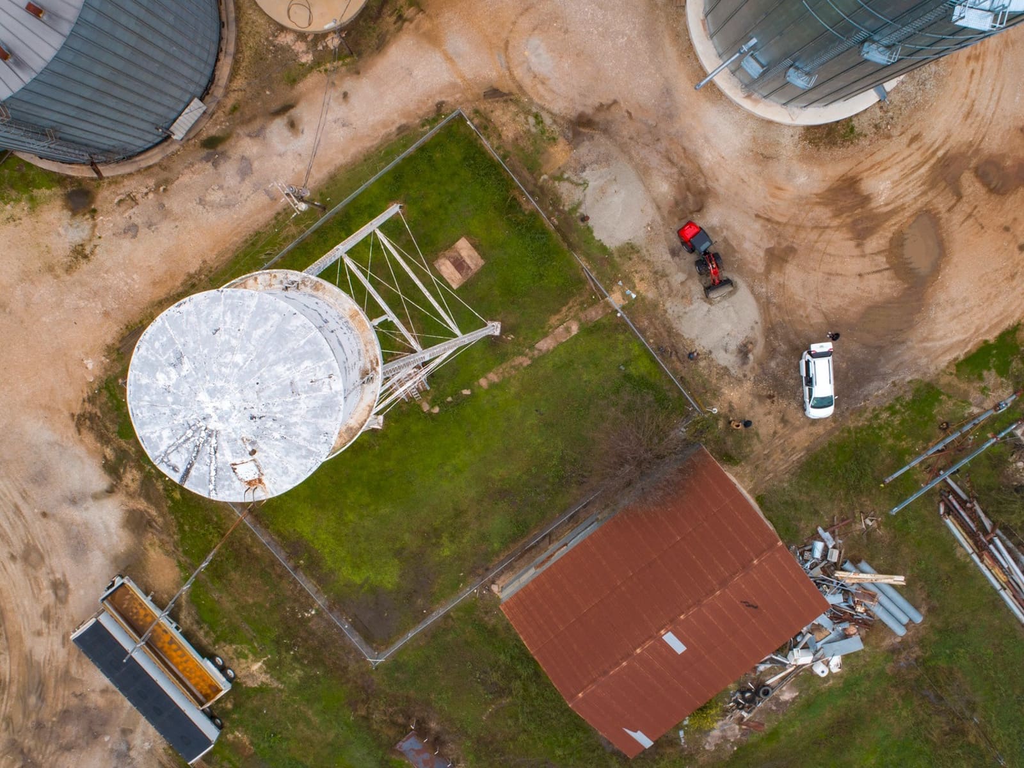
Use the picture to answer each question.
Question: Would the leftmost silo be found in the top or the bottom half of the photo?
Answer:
top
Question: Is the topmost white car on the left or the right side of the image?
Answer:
right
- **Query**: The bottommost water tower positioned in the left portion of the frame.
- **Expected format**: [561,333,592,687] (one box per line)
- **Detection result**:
[130,198,503,512]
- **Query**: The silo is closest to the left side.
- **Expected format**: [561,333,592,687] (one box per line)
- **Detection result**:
[0,0,233,179]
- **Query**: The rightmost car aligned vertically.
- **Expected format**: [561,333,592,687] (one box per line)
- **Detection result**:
[803,344,840,420]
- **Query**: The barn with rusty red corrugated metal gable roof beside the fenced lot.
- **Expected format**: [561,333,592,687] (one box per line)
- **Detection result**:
[499,437,831,755]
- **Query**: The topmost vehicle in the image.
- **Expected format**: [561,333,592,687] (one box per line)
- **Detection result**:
[675,220,734,297]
